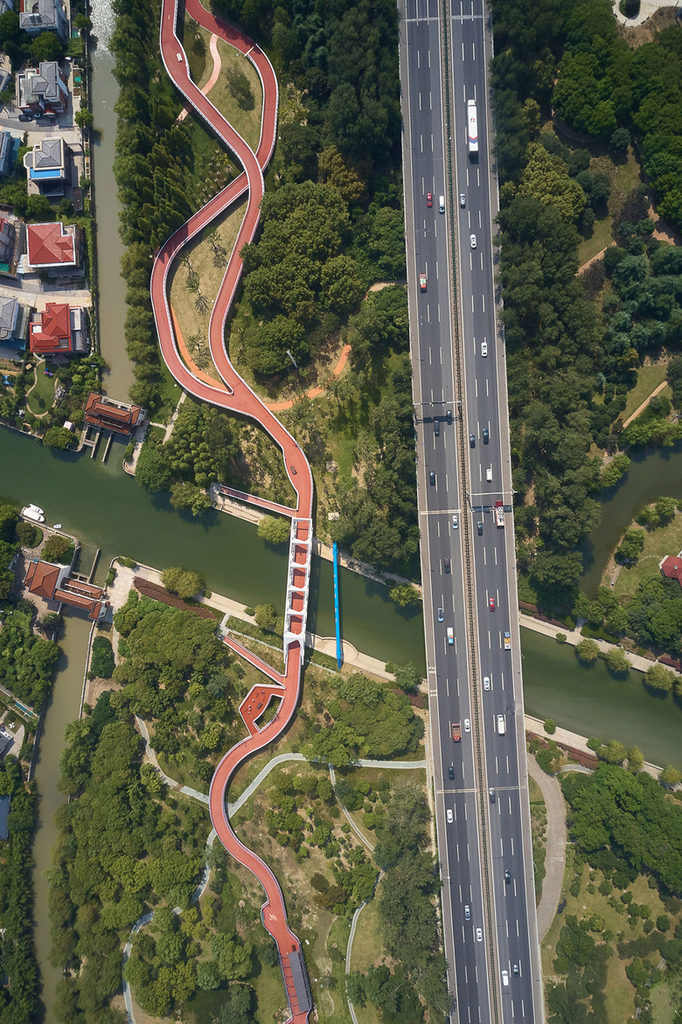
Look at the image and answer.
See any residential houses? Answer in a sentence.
Yes, a residential house can be made out from above.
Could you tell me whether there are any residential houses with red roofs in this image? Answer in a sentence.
Yes, a residential house with a red roof can be made out from above.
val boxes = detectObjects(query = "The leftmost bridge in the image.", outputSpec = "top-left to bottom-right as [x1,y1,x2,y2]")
[283,516,312,663]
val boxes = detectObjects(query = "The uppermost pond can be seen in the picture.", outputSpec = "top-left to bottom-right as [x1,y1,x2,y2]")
[581,436,682,601]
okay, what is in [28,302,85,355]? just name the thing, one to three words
house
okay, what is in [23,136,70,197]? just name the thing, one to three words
house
